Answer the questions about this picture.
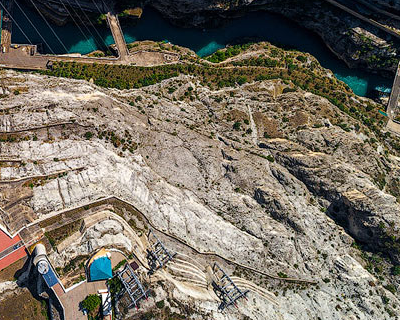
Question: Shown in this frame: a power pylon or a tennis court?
power pylon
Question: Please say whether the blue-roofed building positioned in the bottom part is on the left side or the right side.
left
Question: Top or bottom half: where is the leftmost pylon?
bottom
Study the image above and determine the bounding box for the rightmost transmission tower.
[208,263,251,309]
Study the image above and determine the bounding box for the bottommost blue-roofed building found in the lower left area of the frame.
[88,250,112,280]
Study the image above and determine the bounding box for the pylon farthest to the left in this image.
[120,266,152,311]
